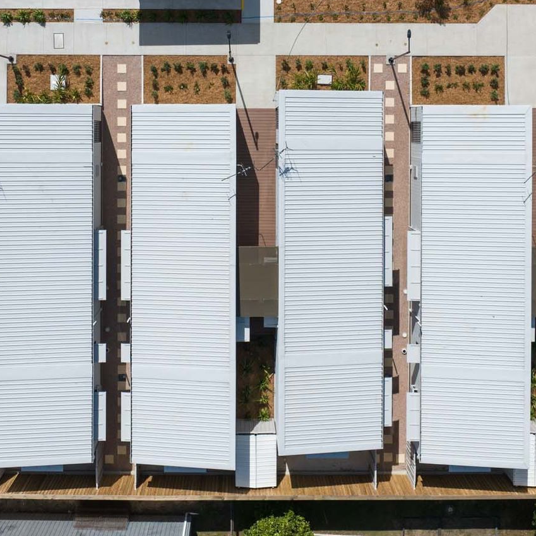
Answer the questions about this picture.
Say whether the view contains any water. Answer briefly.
No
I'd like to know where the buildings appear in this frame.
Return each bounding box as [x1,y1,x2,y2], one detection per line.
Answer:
[264,90,392,459]
[0,511,190,536]
[0,104,105,472]
[121,104,250,473]
[407,105,534,473]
